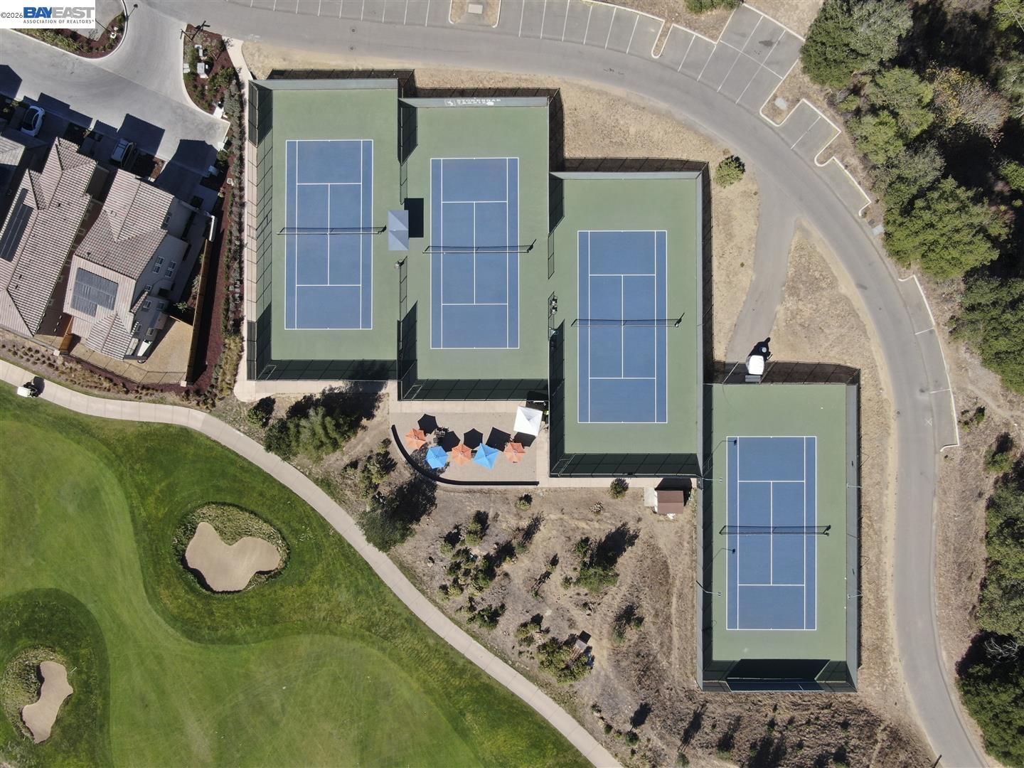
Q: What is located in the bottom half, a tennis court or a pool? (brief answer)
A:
tennis court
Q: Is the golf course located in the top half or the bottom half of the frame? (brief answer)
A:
bottom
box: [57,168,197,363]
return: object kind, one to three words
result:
house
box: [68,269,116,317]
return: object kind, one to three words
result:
solar array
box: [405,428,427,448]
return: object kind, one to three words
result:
umbrella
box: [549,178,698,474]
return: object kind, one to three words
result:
tennis court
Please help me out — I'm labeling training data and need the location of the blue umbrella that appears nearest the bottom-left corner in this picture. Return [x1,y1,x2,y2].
[425,446,448,468]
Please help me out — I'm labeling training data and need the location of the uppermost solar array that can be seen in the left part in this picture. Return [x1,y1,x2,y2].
[0,193,32,264]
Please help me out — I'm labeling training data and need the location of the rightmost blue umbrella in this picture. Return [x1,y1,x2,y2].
[474,444,499,469]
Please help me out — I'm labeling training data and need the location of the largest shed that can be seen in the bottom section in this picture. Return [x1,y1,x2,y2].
[654,489,685,514]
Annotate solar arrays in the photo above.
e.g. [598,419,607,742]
[0,193,32,264]
[68,269,116,317]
